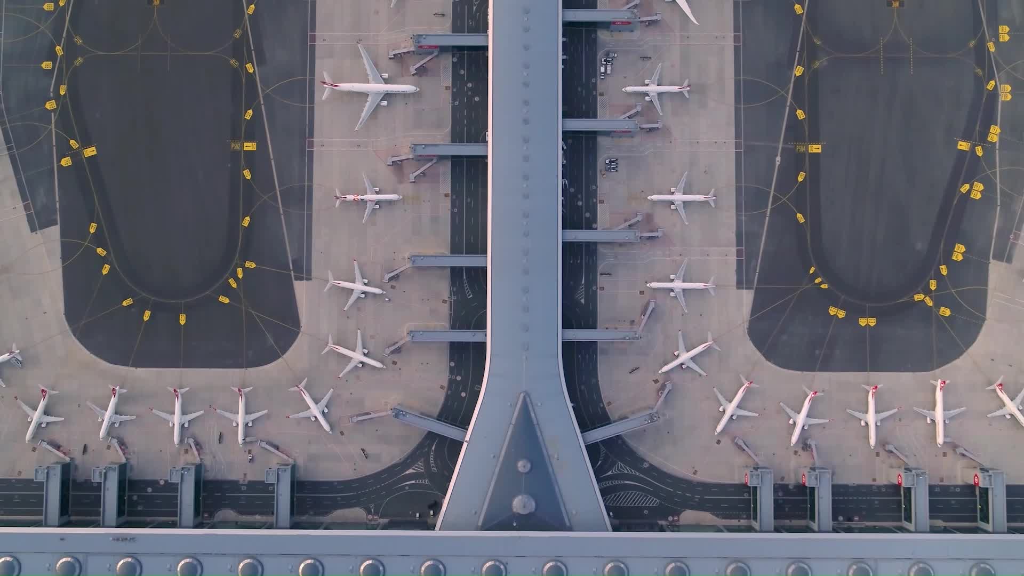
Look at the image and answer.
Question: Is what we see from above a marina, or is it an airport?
airport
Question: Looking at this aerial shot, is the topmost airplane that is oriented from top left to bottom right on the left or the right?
right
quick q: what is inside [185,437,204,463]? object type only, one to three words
jet bridge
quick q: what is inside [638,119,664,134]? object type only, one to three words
jet bridge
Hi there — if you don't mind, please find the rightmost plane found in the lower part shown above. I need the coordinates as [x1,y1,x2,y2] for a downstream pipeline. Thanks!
[987,379,1024,430]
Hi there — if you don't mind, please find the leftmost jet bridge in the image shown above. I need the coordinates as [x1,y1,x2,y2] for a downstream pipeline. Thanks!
[38,438,75,462]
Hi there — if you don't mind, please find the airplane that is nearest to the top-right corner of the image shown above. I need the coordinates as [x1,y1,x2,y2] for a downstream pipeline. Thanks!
[676,0,699,24]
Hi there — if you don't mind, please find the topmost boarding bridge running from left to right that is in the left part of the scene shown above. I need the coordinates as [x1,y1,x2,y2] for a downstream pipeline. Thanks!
[388,46,416,59]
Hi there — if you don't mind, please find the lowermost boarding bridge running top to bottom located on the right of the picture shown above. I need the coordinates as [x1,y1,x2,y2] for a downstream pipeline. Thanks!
[807,438,820,467]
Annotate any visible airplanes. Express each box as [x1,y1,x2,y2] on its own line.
[215,389,267,446]
[846,389,901,448]
[151,389,203,446]
[622,63,691,115]
[323,42,420,130]
[781,388,830,445]
[647,171,717,224]
[676,0,699,24]
[987,379,1024,430]
[659,329,719,378]
[324,327,386,380]
[913,380,966,447]
[647,259,718,313]
[288,380,333,433]
[14,386,62,443]
[335,171,402,223]
[88,382,136,444]
[713,377,761,434]
[328,260,386,311]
